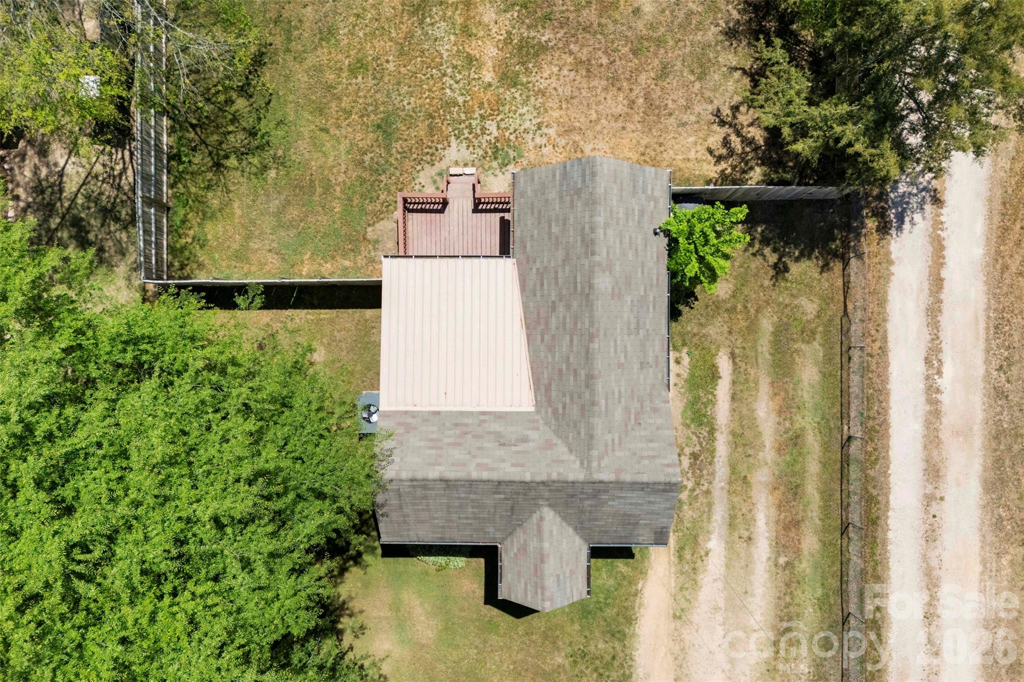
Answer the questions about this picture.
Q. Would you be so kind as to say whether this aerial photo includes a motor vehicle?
No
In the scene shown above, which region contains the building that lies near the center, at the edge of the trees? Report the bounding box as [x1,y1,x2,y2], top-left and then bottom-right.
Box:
[370,157,681,612]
